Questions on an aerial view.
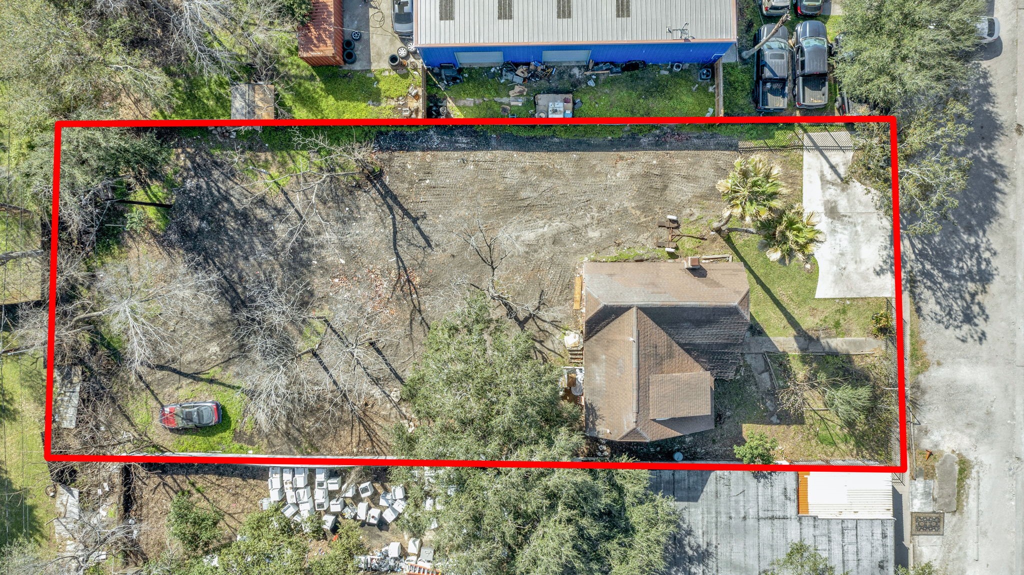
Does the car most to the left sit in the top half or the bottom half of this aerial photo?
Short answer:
bottom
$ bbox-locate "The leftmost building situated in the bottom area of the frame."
[581,258,752,442]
